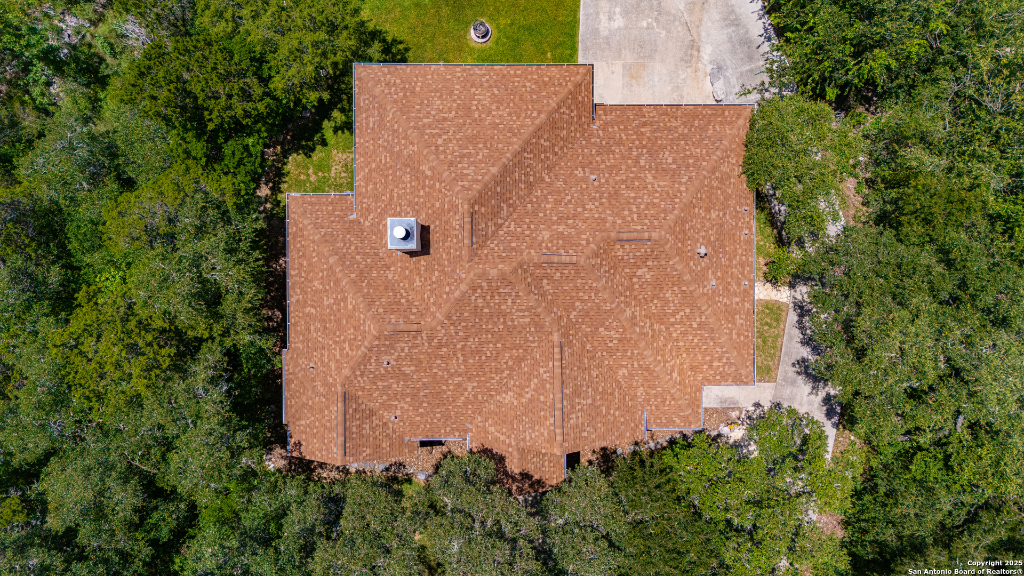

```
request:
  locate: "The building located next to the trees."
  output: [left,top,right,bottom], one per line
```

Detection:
[280,63,757,492]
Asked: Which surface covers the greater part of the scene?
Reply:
trees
